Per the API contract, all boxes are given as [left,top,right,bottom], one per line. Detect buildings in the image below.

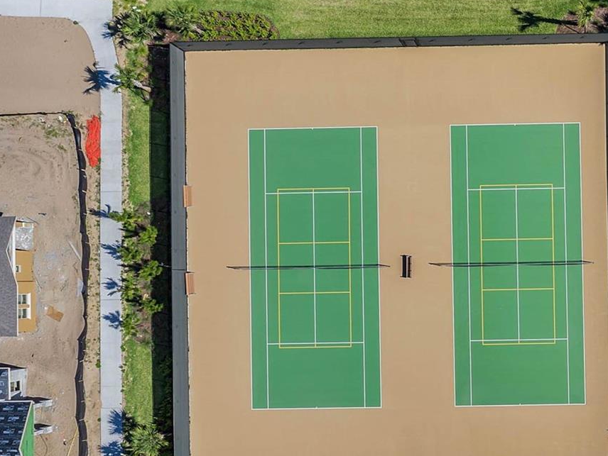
[0,367,38,456]
[0,216,36,336]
